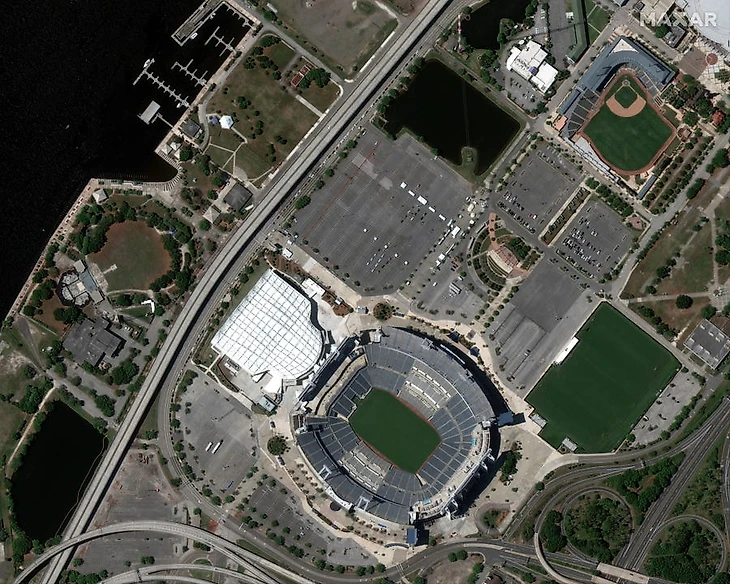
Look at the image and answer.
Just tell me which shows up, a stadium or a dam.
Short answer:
stadium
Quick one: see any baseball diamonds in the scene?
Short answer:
Yes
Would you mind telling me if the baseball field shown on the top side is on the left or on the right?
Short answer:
right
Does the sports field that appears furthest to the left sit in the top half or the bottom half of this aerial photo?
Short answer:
bottom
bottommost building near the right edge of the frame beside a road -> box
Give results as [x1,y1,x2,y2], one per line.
[684,319,730,370]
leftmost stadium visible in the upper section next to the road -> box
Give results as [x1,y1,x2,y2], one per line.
[552,36,678,195]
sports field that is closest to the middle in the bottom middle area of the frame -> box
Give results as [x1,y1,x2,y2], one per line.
[349,387,441,474]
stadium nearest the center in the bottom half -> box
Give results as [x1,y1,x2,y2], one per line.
[295,326,496,528]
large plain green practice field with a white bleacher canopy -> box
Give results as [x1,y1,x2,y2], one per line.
[525,300,682,455]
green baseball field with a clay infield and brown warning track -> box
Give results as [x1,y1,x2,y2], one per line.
[579,71,677,174]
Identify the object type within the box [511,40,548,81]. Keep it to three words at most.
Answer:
building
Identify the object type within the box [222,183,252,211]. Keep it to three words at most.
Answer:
building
